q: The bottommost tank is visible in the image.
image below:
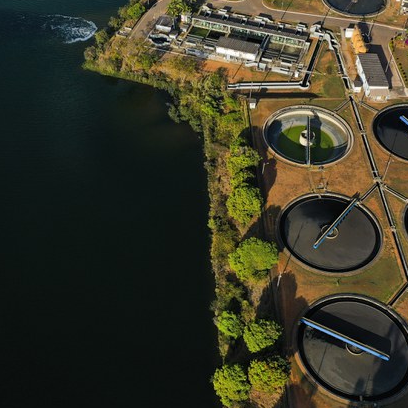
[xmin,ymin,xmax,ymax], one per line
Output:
[295,292,408,405]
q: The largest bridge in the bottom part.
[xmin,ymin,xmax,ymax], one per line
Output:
[301,316,389,361]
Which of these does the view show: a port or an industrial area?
industrial area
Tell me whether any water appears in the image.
Yes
